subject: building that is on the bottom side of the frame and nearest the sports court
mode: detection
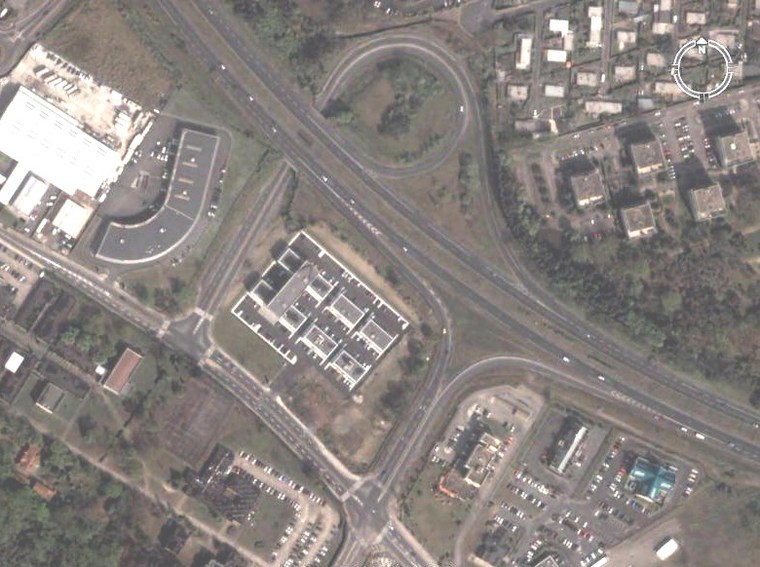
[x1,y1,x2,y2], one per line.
[195,444,229,491]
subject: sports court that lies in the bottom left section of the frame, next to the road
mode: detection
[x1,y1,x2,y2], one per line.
[165,383,235,459]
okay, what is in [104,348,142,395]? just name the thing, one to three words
house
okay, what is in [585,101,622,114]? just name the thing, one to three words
house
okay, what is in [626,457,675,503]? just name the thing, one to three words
building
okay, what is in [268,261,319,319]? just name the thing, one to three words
building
